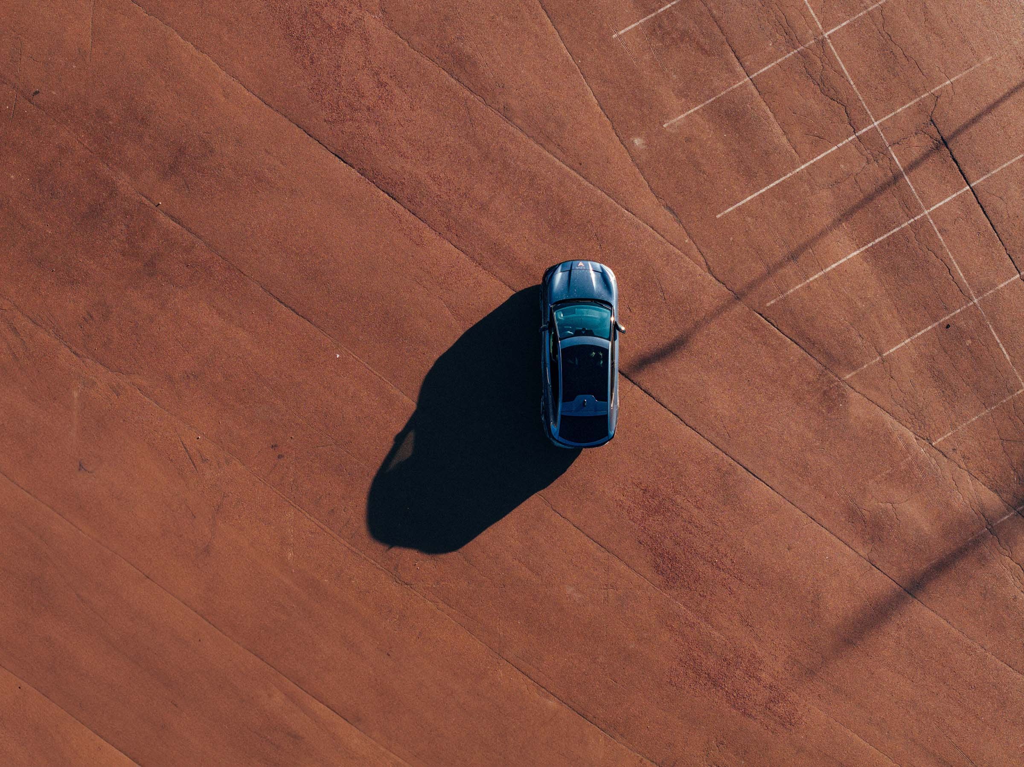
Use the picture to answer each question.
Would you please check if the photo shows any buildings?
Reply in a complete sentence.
No, there's no building here.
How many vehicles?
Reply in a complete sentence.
In total, 1 vehicle can be seen.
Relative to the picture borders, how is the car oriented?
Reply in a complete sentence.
The car is oriented vertically.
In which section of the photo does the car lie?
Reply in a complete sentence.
The car is located in the center region of the scene.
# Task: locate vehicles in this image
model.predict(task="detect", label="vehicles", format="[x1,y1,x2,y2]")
[537,260,627,449]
